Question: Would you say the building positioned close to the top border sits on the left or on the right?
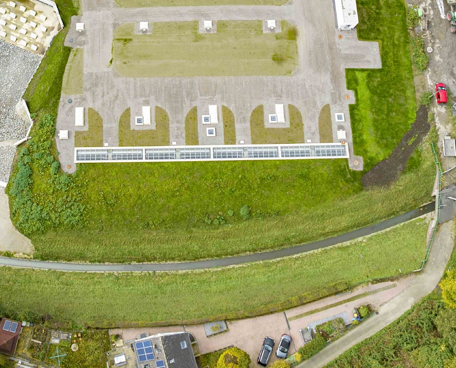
right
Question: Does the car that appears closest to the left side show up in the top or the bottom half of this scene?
bottom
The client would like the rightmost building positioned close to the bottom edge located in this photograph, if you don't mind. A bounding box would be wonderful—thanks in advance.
[100,325,197,368]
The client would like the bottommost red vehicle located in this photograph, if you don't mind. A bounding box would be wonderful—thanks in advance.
[434,83,449,106]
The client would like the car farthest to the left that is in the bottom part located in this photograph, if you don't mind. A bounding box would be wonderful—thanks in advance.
[256,334,278,368]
